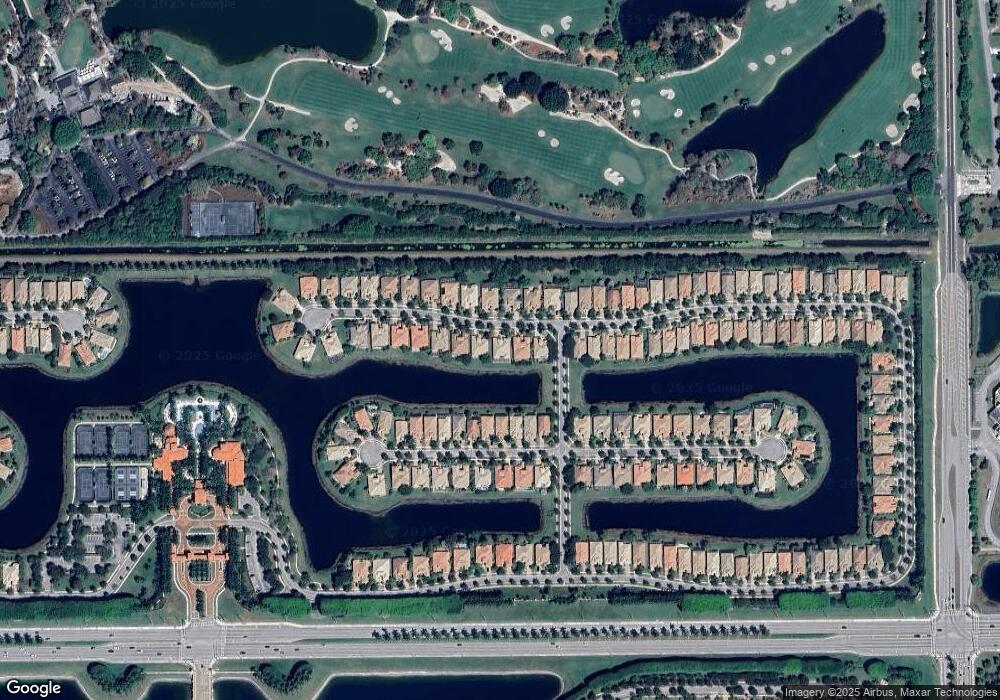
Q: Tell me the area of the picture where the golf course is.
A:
top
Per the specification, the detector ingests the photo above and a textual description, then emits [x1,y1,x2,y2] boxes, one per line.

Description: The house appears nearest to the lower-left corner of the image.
[2,563,19,586]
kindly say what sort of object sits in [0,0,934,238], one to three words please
golf course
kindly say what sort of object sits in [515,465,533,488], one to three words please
house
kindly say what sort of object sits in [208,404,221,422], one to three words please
swimming pool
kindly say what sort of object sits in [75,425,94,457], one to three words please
tennis court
